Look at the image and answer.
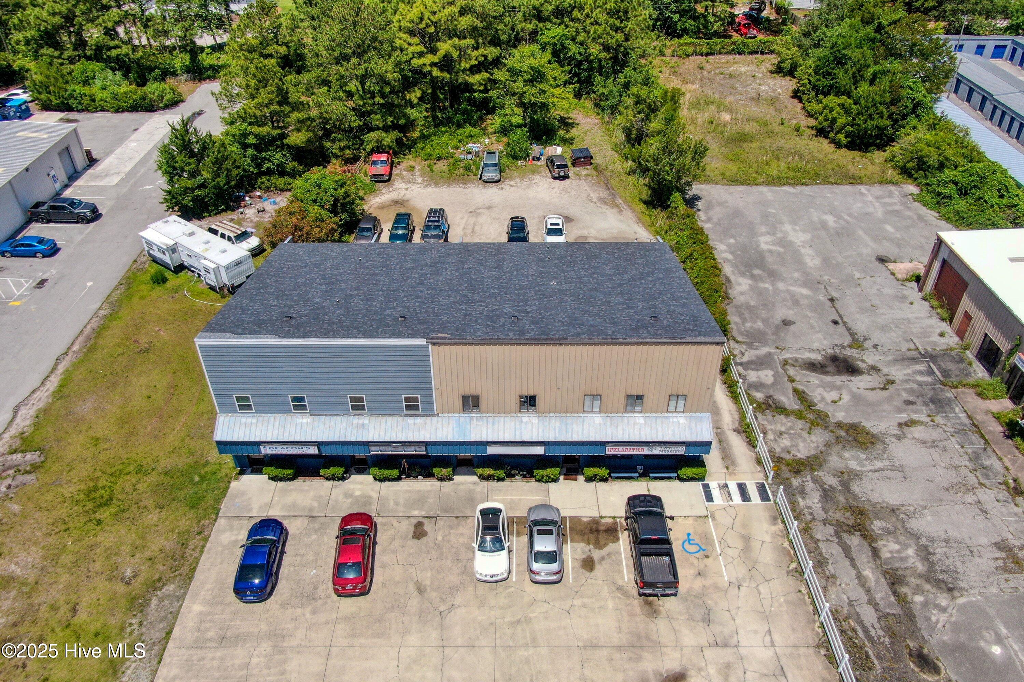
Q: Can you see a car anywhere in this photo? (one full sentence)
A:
Yes, the picture does show a car.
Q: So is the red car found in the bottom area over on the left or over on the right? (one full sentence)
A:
It is on the left.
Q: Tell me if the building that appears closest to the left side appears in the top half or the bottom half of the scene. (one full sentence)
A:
Seen from above, the building that appears closest to the left side lies in the top half of the view.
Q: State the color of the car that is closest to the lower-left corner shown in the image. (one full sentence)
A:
The car that is closest to the lower-left corner looks blue in the image.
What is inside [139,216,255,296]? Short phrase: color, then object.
white camper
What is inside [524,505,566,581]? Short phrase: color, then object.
gray car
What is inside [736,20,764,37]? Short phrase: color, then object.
red vehicle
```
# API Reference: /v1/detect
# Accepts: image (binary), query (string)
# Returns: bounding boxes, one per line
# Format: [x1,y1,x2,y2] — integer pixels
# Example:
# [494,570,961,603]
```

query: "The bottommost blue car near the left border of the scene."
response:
[0,234,58,257]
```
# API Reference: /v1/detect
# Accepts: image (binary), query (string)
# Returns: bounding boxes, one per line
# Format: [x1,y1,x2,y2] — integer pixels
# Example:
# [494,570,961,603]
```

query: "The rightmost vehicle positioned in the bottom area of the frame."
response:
[624,496,680,599]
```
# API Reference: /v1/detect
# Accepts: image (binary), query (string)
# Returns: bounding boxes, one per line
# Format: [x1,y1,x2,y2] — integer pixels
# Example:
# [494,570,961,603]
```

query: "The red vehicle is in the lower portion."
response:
[333,515,375,594]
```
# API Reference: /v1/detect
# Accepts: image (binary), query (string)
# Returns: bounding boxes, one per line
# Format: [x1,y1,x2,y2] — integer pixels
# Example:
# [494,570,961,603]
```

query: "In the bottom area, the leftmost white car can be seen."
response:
[471,503,512,582]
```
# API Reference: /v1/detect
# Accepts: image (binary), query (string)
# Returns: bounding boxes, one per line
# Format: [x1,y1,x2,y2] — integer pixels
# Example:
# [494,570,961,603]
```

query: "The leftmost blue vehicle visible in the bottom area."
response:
[232,520,287,601]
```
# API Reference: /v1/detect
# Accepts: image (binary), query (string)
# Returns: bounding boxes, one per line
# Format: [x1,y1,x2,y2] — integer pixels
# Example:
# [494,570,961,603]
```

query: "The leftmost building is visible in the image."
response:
[0,116,89,244]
